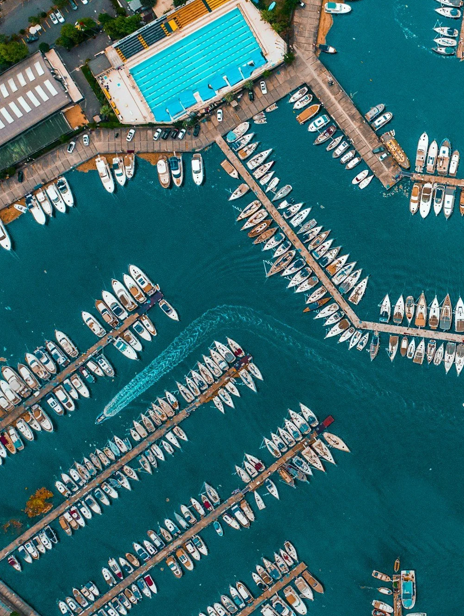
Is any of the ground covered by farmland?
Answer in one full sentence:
No, farmland can't be seen anywhere here.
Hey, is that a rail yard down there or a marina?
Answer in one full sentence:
The picture captures a marina.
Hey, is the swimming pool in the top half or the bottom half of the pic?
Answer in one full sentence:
The top half of the photo is where the swimming pool is.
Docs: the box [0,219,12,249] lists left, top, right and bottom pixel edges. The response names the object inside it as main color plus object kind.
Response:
white boat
